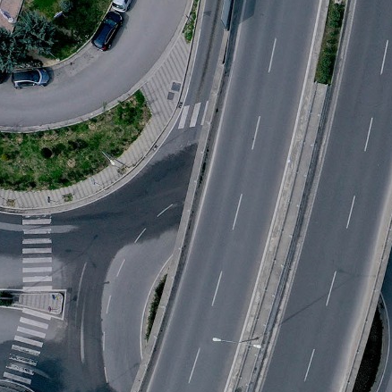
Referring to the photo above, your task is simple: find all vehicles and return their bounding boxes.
[113,0,132,13]
[13,67,54,88]
[93,10,123,52]
[0,67,8,84]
